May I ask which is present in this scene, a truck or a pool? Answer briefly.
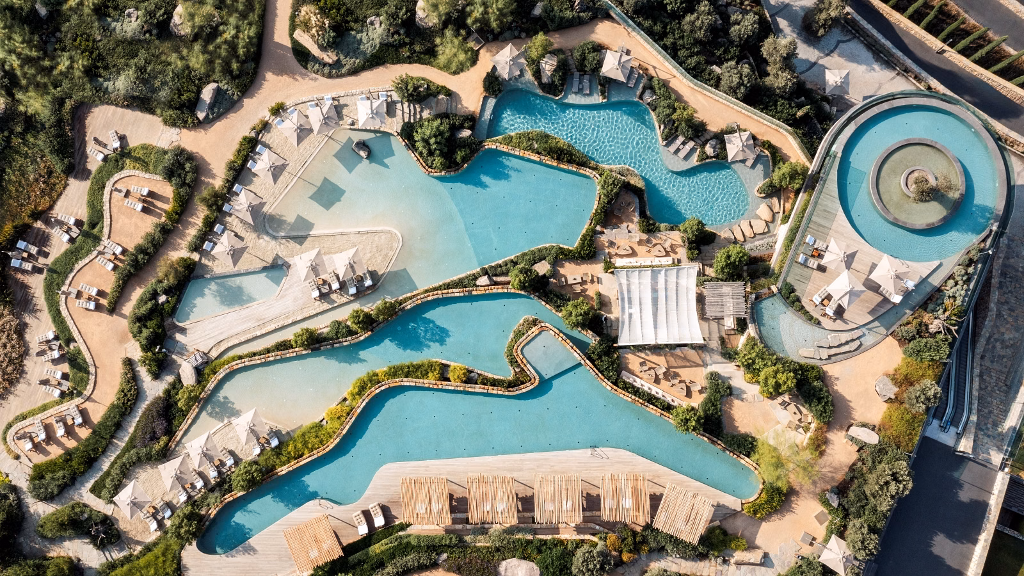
pool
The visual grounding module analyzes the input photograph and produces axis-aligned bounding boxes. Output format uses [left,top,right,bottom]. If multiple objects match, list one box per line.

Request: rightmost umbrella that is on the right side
[869,255,915,295]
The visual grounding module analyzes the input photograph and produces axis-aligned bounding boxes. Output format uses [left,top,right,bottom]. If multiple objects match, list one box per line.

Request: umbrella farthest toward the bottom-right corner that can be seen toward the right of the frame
[793,525,855,573]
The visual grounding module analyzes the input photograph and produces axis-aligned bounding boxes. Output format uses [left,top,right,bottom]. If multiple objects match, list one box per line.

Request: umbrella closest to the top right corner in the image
[823,69,850,96]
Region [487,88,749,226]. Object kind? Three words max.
swimming pool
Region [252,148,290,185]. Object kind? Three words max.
umbrella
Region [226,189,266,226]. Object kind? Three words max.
umbrella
